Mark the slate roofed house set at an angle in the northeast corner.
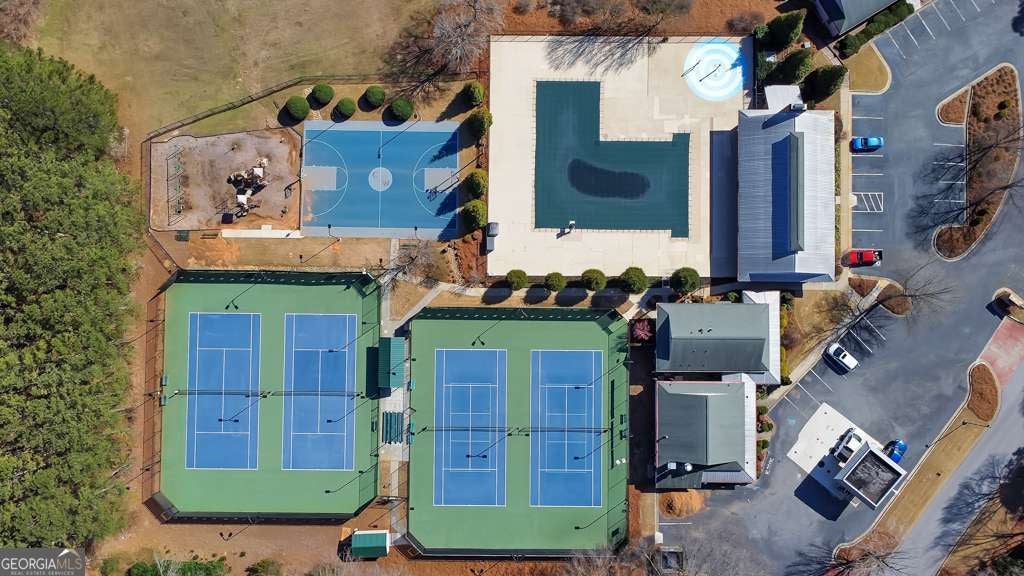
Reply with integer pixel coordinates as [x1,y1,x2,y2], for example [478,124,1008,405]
[806,0,900,40]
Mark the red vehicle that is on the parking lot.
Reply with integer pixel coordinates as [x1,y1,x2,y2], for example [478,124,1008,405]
[848,250,885,265]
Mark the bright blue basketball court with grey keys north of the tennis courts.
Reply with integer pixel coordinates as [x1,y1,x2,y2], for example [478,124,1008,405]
[302,121,460,239]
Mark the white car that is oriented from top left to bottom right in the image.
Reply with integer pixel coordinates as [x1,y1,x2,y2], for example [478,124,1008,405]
[827,343,861,371]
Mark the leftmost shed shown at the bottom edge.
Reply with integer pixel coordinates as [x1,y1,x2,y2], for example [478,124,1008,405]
[351,528,391,557]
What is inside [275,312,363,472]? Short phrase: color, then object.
blue tennis court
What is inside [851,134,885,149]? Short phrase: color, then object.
blue car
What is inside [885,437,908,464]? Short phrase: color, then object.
blue car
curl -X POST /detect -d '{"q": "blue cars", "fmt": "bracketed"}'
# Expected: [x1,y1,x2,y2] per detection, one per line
[885,437,908,464]
[851,134,885,149]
